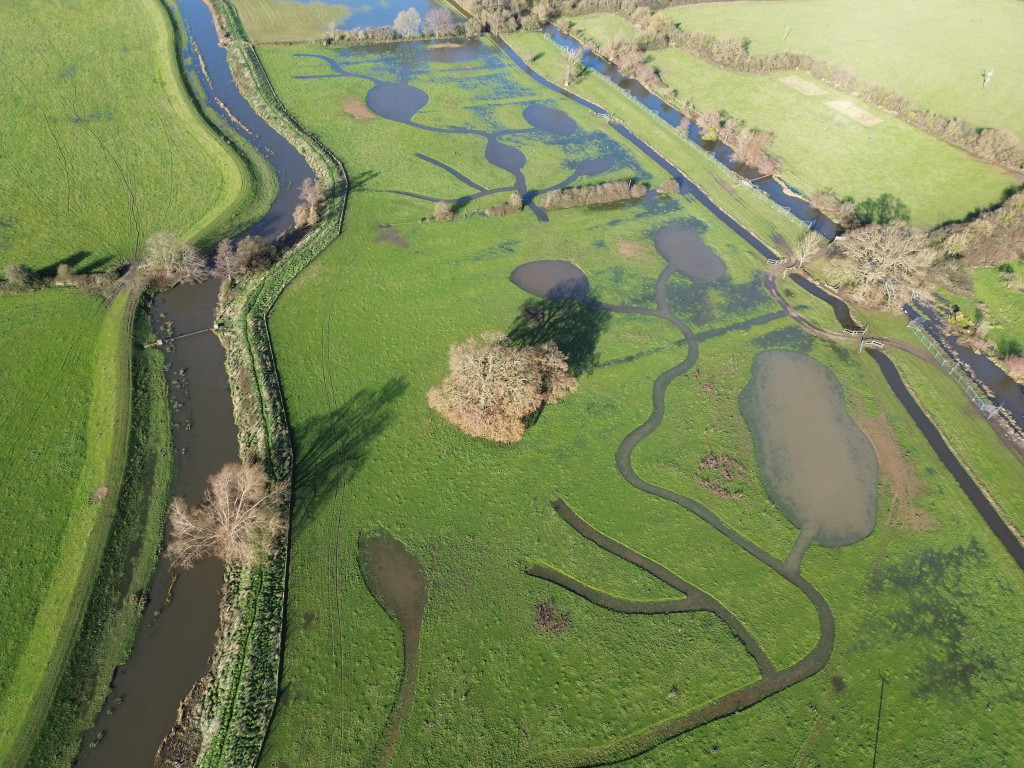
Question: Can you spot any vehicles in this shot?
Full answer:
No, this view has no vehicle in it.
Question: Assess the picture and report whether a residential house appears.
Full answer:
No, there is no residential house in the image.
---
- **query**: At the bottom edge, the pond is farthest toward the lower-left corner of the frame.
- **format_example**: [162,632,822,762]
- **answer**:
[357,526,430,768]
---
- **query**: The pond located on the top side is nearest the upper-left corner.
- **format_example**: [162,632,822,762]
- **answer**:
[365,82,429,122]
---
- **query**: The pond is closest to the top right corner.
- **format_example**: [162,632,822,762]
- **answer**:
[656,230,726,283]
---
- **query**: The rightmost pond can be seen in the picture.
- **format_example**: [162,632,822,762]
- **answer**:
[739,351,879,546]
